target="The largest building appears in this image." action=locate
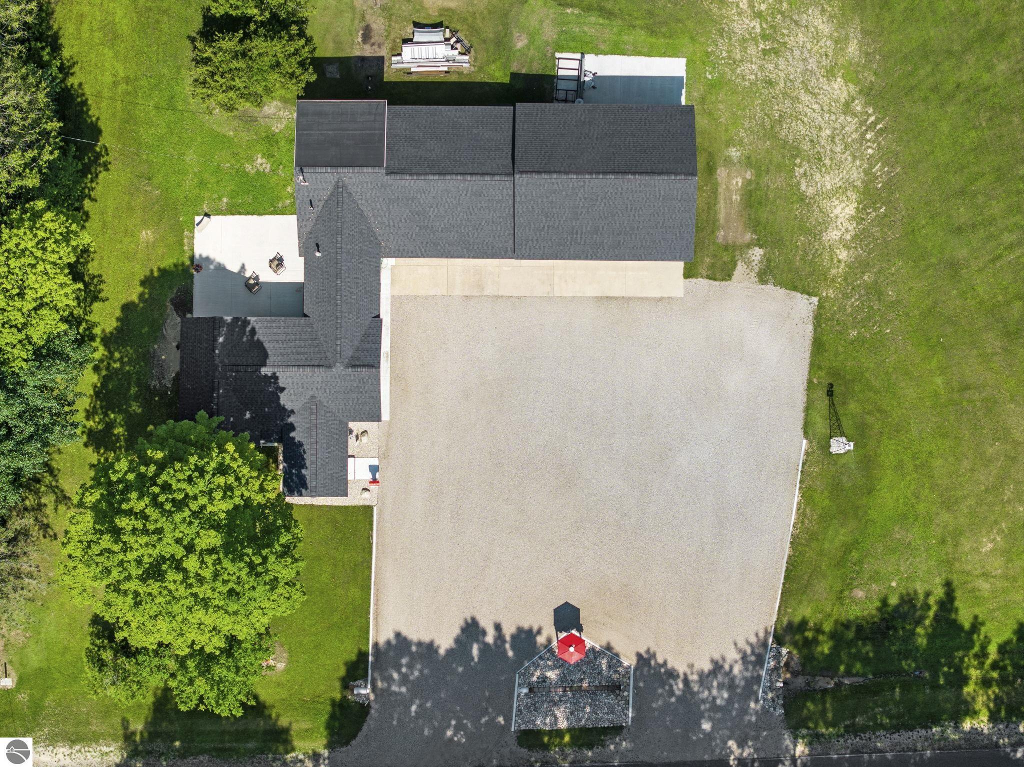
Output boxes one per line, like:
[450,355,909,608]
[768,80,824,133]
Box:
[179,99,697,498]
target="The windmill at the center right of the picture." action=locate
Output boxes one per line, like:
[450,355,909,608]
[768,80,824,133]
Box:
[830,437,854,454]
